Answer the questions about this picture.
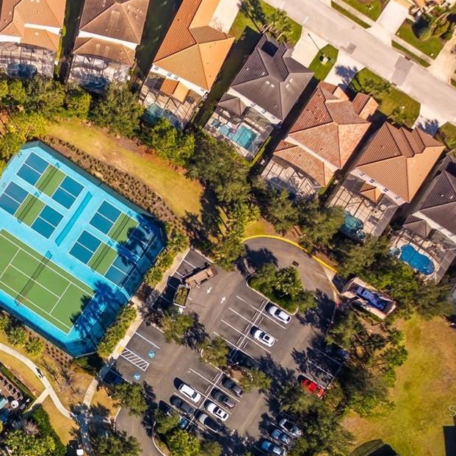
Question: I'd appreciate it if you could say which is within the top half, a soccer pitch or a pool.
pool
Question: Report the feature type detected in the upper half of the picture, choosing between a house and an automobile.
house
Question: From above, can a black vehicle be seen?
Yes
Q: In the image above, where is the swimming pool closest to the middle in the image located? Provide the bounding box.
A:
[279,183,304,203]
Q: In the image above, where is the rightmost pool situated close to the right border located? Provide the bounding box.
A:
[402,245,435,276]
